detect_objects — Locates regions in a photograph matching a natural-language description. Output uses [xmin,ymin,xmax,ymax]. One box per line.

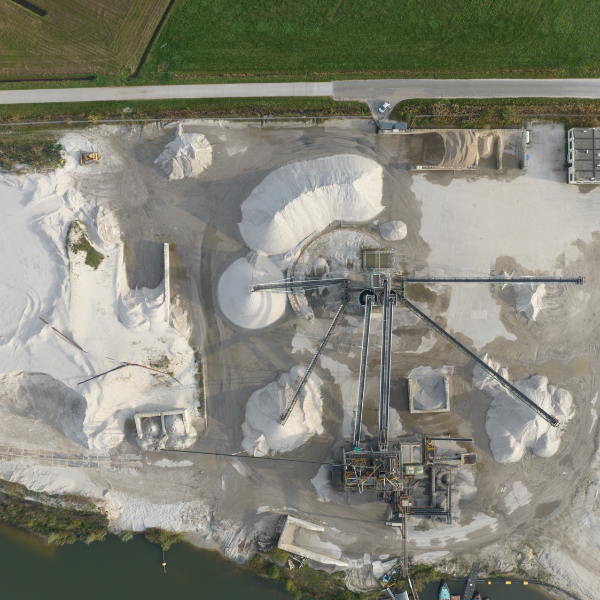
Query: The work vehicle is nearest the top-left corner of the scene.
[83,151,101,165]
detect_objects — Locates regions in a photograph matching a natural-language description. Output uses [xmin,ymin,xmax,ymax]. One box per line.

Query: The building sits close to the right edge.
[567,127,600,183]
